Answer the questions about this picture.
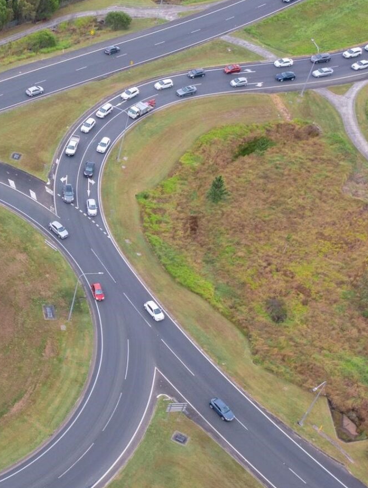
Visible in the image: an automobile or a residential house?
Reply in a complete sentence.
I can see an automobile in this picture.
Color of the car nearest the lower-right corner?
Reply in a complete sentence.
In this view, the car nearest the lower-right corner is blue.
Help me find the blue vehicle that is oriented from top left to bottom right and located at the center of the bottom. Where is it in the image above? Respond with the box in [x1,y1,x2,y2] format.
[209,398,235,422]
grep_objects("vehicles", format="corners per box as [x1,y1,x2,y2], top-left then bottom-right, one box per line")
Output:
[97,137,110,152]
[312,68,333,77]
[310,52,332,63]
[186,66,208,78]
[275,72,296,82]
[222,64,243,74]
[342,47,363,58]
[25,87,44,97]
[351,60,368,71]
[96,102,113,118]
[121,87,139,99]
[230,77,249,87]
[209,398,235,422]
[81,119,96,133]
[143,300,164,321]
[102,45,122,56]
[84,161,95,178]
[128,98,155,118]
[87,199,98,216]
[49,221,69,239]
[63,184,74,203]
[65,136,81,155]
[155,78,173,89]
[273,58,294,68]
[91,283,105,302]
[176,86,198,97]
